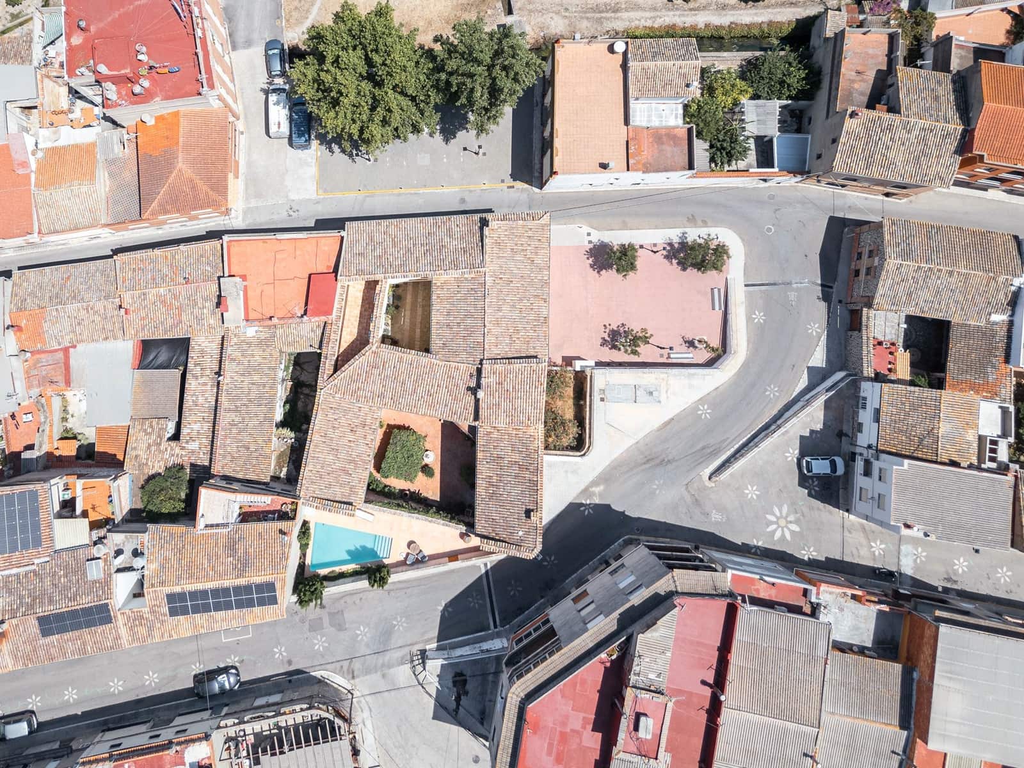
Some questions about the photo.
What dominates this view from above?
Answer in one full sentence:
What you mostly see from above here is buildings.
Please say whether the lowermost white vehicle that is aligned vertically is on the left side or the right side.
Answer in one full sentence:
It is on the left.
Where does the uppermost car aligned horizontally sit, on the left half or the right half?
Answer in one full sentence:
The uppermost car aligned horizontally is on the right side of the image.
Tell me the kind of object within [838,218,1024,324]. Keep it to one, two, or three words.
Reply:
house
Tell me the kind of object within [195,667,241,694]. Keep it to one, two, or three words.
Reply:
car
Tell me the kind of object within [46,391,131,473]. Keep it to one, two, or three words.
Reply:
house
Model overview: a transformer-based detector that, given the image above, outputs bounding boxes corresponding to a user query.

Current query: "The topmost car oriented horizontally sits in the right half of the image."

[799,455,842,476]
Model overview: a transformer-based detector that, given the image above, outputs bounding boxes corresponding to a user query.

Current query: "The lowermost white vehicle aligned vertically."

[266,86,289,140]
